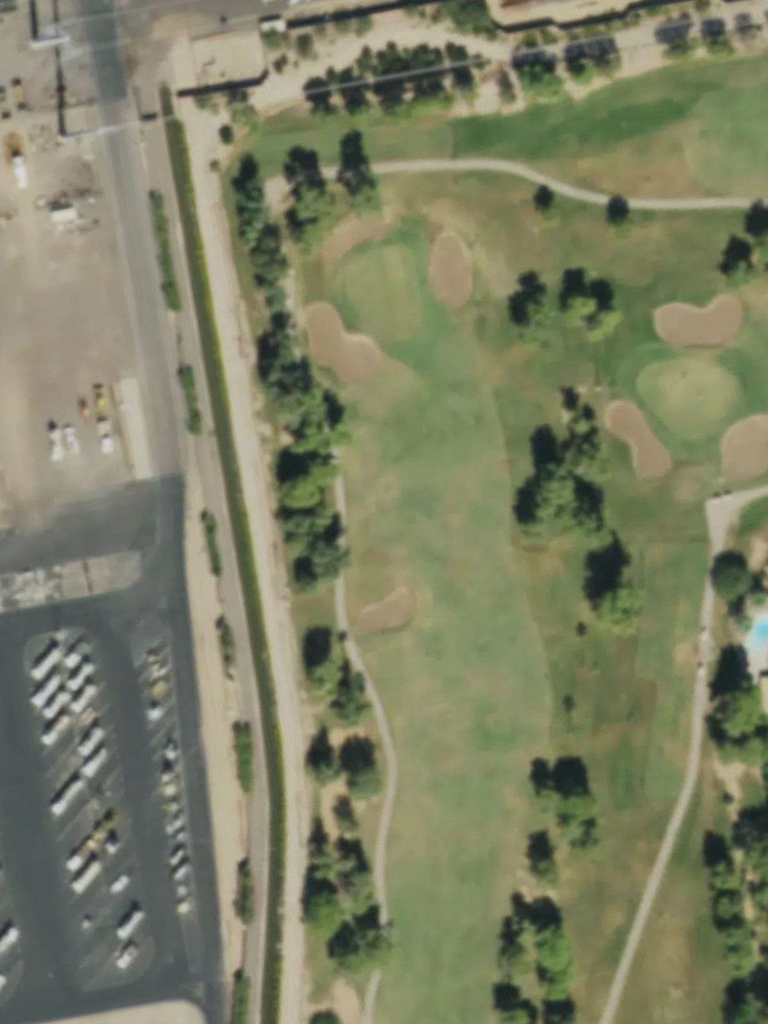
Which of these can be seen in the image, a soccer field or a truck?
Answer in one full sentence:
The one in the frame is a truck.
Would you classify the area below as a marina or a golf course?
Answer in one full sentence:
It's a golf course.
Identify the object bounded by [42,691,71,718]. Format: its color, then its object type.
white truck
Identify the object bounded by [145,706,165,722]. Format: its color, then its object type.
white vehicle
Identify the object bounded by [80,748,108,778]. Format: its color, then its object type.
white truck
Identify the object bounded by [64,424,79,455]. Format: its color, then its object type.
white vehicle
